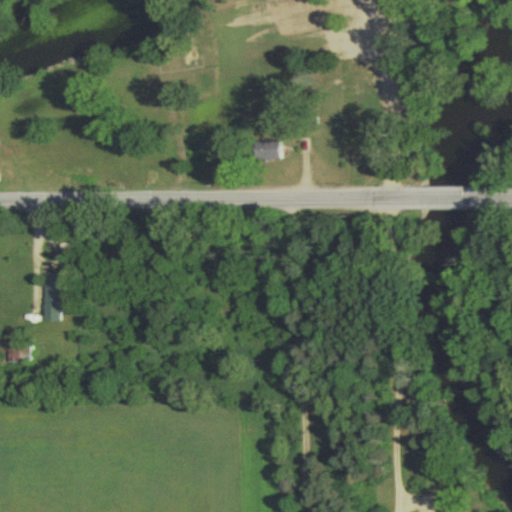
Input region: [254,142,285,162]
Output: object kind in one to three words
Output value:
house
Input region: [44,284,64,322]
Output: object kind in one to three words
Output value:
house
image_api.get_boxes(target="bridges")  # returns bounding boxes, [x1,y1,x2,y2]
[426,184,466,212]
